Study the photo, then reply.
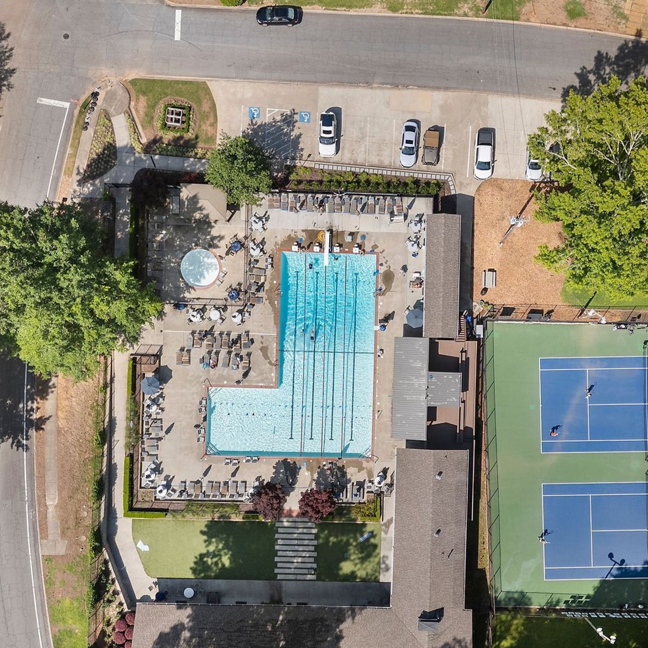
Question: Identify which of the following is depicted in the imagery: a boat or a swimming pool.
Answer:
swimming pool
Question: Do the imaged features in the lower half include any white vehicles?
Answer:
No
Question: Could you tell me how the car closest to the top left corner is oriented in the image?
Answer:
from left to right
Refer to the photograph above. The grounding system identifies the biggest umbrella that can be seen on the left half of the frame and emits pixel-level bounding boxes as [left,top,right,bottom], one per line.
[141,375,161,394]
